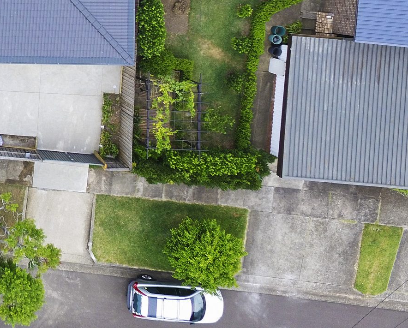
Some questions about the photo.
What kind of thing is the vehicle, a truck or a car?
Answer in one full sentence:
What you see as the vehicle is a car.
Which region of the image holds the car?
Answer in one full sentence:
You can find the car in the bottom area of the picture.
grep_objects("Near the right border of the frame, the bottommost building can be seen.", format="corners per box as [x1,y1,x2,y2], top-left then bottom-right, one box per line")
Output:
[263,35,408,192]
